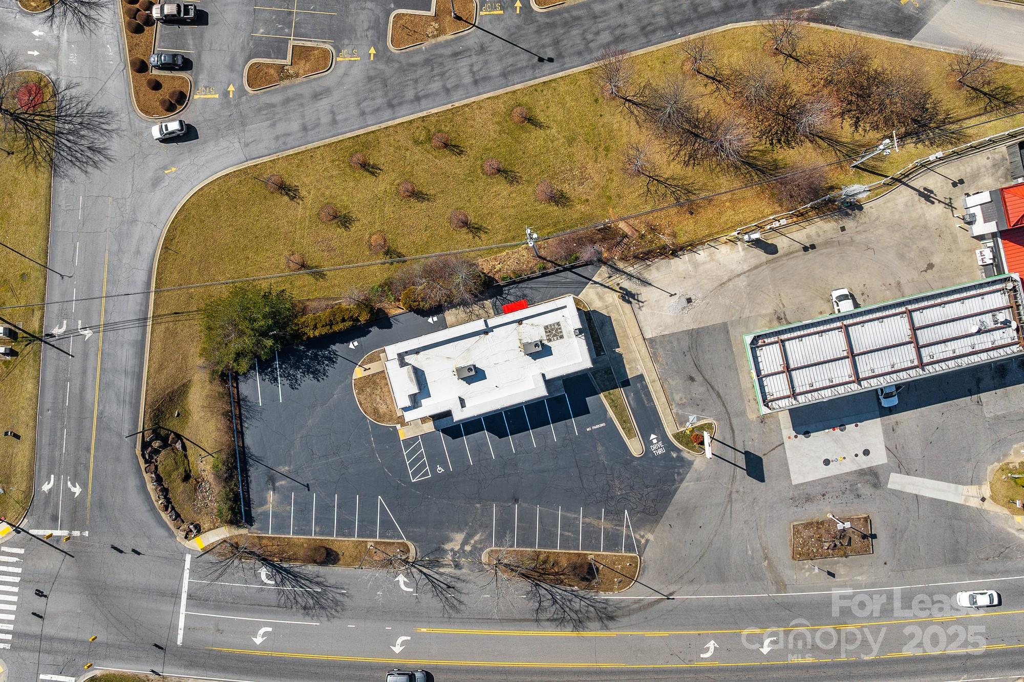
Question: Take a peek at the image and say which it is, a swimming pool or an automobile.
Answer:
automobile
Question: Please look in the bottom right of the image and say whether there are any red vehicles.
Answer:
No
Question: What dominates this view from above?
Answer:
paved ground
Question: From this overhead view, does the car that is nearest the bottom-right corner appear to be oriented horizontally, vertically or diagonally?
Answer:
horizontally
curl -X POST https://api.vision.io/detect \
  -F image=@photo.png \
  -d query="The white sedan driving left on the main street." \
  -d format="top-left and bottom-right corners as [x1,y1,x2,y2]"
[954,587,997,609]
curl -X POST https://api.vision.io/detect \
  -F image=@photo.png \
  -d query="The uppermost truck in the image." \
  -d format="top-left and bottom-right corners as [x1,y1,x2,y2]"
[152,0,199,23]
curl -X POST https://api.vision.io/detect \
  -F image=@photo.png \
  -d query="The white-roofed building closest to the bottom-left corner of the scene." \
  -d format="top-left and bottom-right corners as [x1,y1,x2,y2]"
[384,295,592,422]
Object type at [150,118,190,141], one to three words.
car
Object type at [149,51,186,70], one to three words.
car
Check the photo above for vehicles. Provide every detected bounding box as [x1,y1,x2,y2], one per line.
[829,285,853,312]
[152,0,199,23]
[385,668,427,682]
[149,51,186,70]
[954,587,997,609]
[150,118,190,141]
[877,384,903,410]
